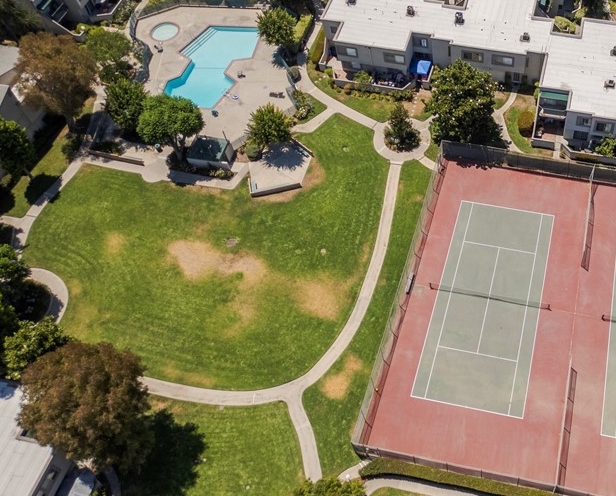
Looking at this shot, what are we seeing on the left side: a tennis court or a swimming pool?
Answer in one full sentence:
What appears on the left side is a swimming pool.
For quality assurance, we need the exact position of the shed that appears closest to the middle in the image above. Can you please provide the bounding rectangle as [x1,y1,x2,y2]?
[187,132,237,174]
